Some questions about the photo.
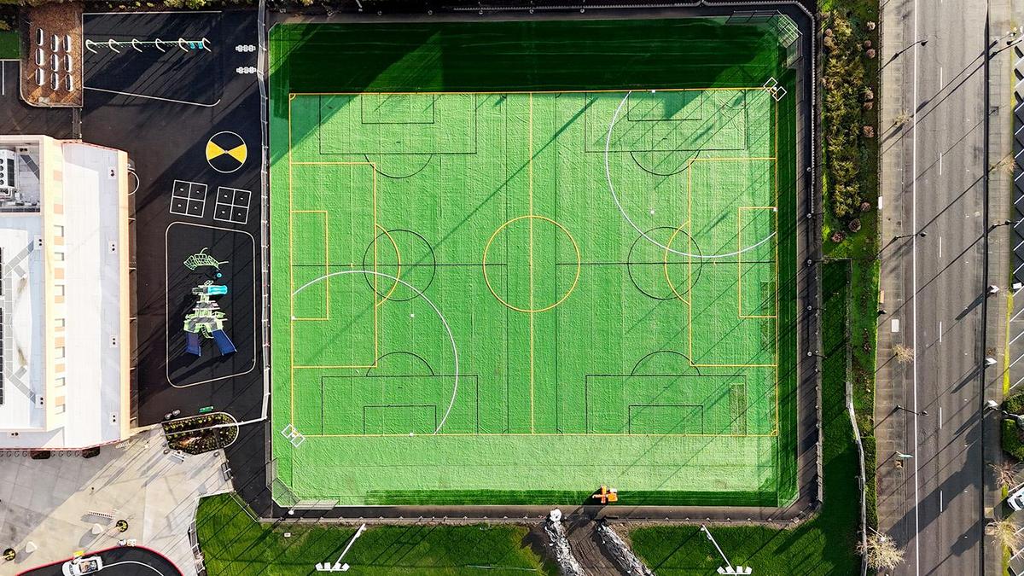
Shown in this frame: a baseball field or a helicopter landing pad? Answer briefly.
baseball field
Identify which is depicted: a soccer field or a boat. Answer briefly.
soccer field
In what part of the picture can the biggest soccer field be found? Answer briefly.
center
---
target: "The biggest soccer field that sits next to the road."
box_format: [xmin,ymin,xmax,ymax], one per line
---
[269,15,799,508]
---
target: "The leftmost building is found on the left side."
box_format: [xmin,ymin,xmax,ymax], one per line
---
[0,135,139,450]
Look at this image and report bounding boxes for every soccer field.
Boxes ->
[269,15,799,508]
[298,92,508,435]
[556,90,767,435]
